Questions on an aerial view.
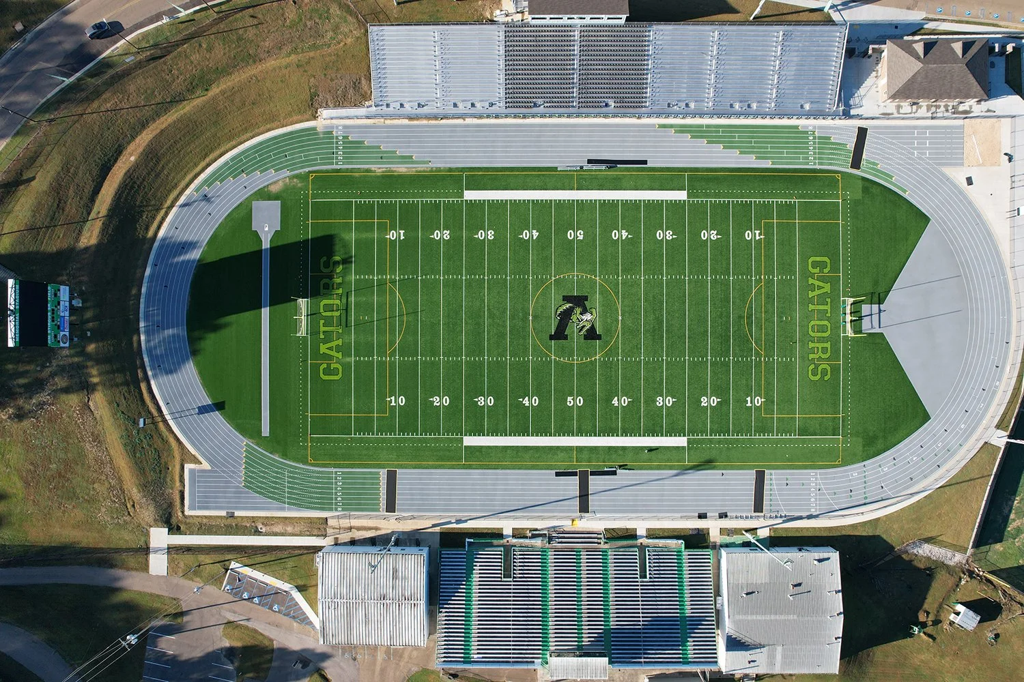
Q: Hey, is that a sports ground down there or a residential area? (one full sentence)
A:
The picture captures a sports ground.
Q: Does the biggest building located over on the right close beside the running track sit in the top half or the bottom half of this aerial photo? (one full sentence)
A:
The biggest building located over on the right close beside the running track sits in the bottom half of the picture.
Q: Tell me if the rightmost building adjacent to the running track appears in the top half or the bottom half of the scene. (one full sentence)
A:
You can find the rightmost building adjacent to the running track in the top half.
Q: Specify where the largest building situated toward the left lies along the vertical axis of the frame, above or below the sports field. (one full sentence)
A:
You can see the largest building situated toward the left below the sports field in the frame.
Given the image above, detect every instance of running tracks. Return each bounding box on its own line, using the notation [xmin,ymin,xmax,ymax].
[145,124,1011,512]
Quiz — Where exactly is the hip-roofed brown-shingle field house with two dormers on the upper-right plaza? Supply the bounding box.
[881,39,988,103]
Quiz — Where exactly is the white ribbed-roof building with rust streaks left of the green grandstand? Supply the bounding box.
[318,546,429,646]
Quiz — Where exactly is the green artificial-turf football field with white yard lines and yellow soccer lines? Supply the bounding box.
[190,168,929,468]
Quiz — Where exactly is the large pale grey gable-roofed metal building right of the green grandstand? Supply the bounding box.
[719,547,853,674]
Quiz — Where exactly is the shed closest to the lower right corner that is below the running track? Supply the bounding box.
[944,598,982,631]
